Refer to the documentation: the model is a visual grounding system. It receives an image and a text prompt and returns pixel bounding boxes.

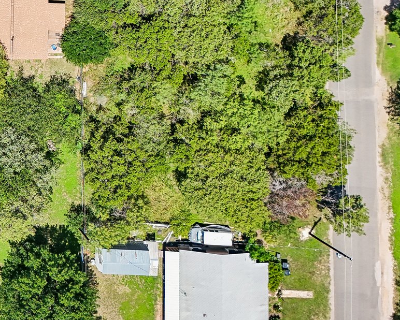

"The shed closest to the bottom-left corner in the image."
[92,243,150,275]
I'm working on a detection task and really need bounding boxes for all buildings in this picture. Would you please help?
[92,243,150,275]
[159,245,269,320]
[0,0,65,59]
